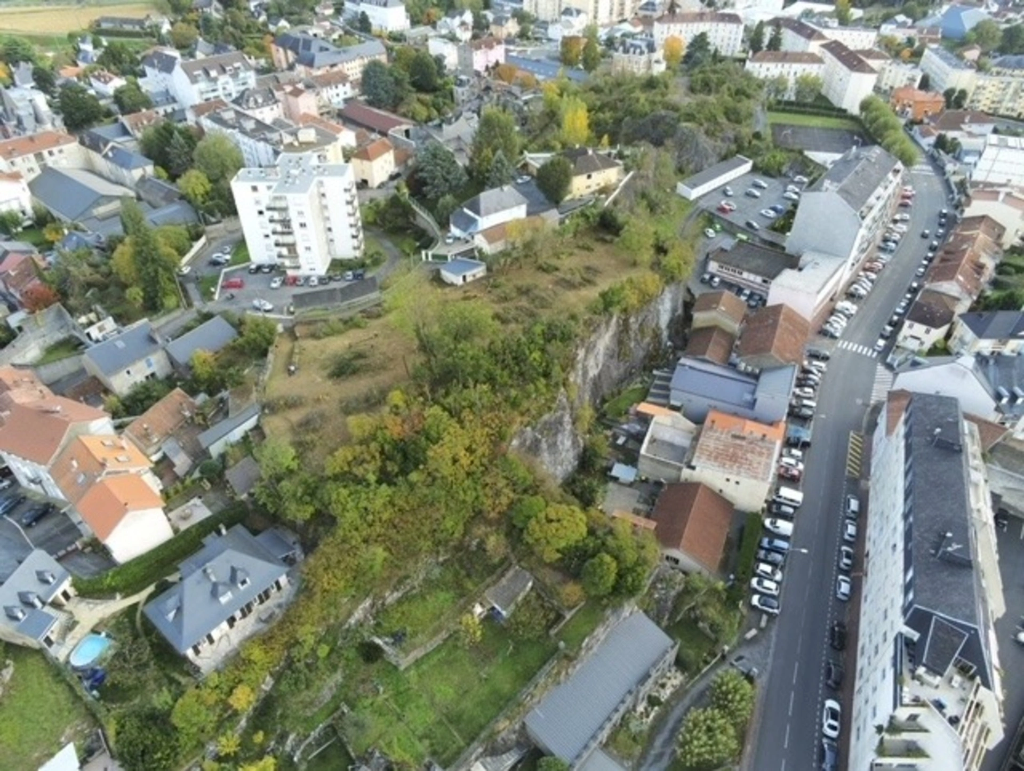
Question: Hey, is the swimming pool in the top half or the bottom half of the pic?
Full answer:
You can find the swimming pool in the bottom half.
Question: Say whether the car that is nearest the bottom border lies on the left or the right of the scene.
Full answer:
The car that is nearest the bottom border sits on the right side.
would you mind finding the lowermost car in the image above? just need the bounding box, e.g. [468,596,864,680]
[817,731,842,771]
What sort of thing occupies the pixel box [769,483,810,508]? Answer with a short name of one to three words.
vehicle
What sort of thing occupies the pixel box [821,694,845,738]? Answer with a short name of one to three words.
car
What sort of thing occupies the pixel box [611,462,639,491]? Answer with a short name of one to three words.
shed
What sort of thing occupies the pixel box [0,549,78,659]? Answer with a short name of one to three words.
house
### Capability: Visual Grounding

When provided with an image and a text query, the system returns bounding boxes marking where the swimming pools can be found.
[62,626,114,668]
